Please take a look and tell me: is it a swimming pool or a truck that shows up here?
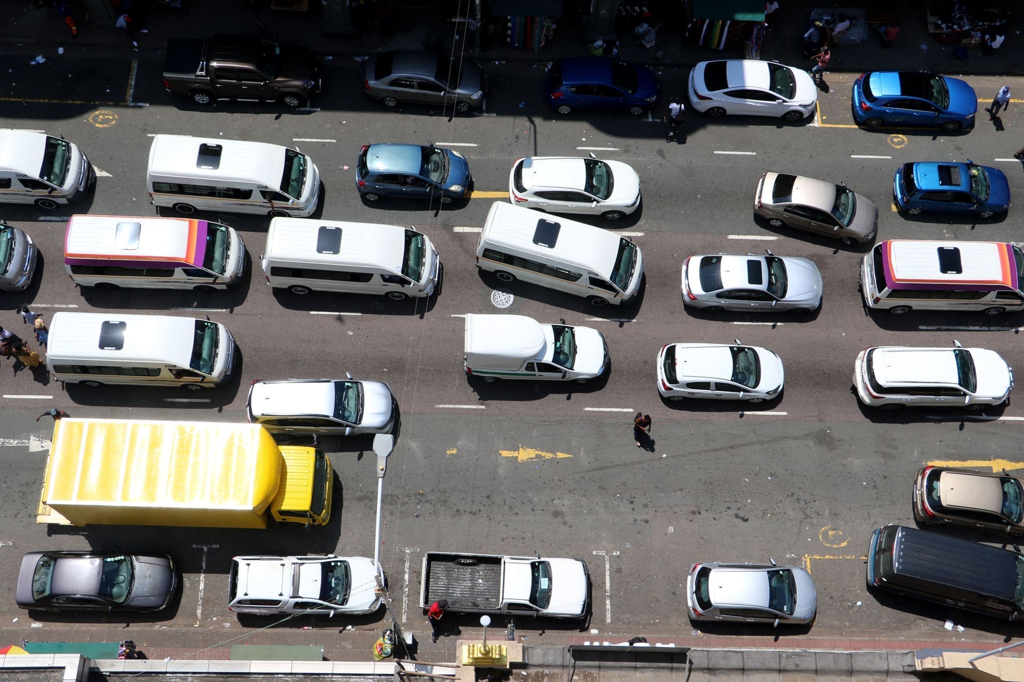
truck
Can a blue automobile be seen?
Yes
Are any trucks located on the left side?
Yes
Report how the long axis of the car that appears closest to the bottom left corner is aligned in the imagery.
from left to right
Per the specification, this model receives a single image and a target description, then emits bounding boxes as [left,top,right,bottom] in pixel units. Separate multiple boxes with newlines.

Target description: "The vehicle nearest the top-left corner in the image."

[0,134,93,214]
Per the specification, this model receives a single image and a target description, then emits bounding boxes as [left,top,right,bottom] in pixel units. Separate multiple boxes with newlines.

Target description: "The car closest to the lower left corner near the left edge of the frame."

[11,542,183,617]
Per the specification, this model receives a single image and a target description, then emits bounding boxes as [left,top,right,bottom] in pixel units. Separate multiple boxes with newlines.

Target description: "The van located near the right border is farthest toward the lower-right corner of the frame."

[858,531,1024,629]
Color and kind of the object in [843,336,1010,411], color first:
white car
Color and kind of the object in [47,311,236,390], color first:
white vehicle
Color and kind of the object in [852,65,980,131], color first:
blue car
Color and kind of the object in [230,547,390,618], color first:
white truck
